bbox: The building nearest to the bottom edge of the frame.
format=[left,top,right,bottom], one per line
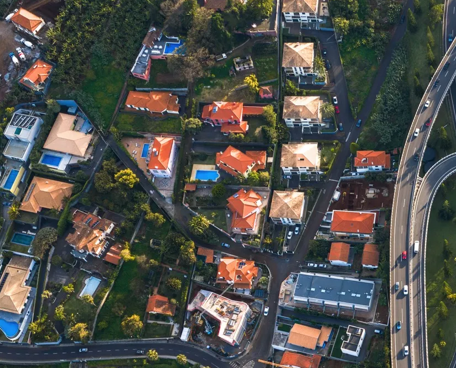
[280,349,322,368]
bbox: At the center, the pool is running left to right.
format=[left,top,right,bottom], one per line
[193,169,220,182]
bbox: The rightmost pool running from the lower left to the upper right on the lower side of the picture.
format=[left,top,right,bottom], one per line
[77,276,103,298]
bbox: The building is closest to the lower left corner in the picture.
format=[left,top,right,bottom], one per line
[0,255,37,316]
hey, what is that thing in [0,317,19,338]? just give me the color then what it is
blue swimming pool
